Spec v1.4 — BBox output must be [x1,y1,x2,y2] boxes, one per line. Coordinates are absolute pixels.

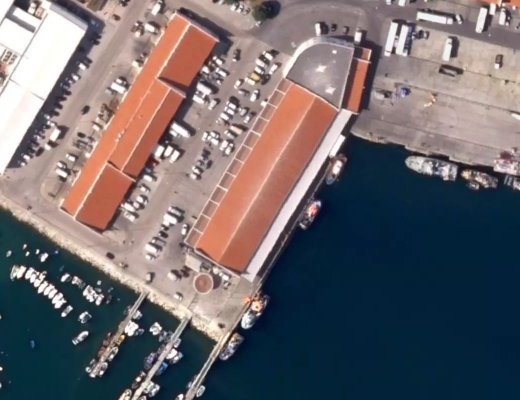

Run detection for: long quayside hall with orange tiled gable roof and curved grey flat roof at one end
[184,37,371,282]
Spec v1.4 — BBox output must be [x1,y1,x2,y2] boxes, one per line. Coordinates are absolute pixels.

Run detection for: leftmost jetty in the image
[89,287,150,377]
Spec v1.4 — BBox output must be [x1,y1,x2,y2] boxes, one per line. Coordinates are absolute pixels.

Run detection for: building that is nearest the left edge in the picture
[0,0,88,171]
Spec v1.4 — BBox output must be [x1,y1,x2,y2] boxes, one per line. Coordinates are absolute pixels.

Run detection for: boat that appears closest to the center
[300,202,319,229]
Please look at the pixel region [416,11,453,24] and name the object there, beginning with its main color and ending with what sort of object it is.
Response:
white vehicle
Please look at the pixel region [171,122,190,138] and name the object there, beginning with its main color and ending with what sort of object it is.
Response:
white vehicle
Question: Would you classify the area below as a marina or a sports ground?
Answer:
marina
